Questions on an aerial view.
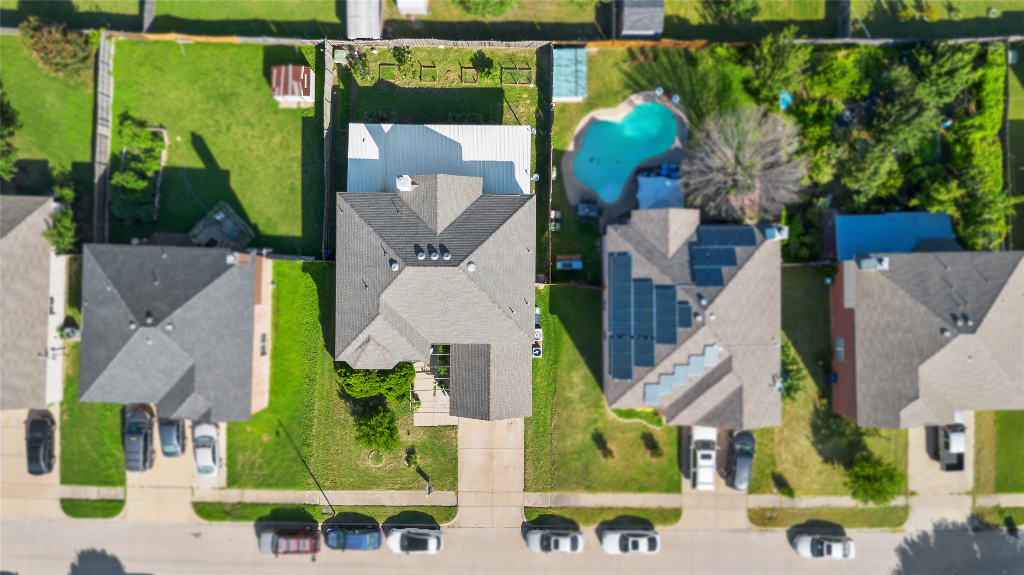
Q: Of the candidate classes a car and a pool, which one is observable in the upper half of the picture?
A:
pool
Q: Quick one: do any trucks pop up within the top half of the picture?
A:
No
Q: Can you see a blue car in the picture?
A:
Yes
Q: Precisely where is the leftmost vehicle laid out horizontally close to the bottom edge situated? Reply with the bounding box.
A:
[260,526,322,556]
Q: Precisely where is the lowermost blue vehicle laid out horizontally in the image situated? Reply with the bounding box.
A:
[327,525,382,552]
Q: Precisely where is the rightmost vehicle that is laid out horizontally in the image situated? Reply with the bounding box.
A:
[791,530,854,558]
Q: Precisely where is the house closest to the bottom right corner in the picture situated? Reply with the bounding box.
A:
[830,242,1024,434]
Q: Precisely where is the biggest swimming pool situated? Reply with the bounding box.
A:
[573,103,675,203]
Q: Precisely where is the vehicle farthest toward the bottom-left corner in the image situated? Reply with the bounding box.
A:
[24,412,58,472]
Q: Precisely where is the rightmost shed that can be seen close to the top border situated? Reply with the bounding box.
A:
[618,0,664,40]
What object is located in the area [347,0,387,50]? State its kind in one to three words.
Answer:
shed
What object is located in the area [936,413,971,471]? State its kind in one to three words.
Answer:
truck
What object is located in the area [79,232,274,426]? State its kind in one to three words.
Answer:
house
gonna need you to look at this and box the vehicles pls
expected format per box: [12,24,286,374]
[260,526,322,556]
[123,405,156,467]
[387,525,443,554]
[24,412,58,472]
[936,413,971,471]
[791,530,854,558]
[691,426,720,490]
[192,422,223,479]
[158,418,188,455]
[601,527,660,555]
[327,525,382,552]
[726,432,756,488]
[526,526,583,554]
